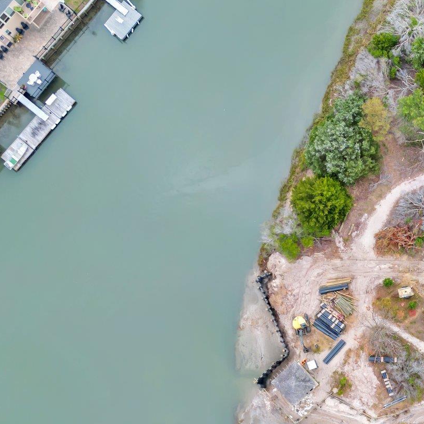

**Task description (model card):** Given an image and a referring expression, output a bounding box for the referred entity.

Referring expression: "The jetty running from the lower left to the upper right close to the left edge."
[1,89,76,171]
